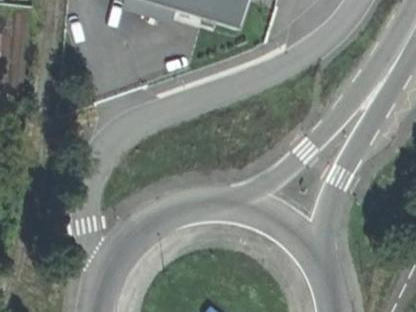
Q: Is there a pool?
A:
No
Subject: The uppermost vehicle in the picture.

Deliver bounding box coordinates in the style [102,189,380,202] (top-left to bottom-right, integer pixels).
[107,0,123,28]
